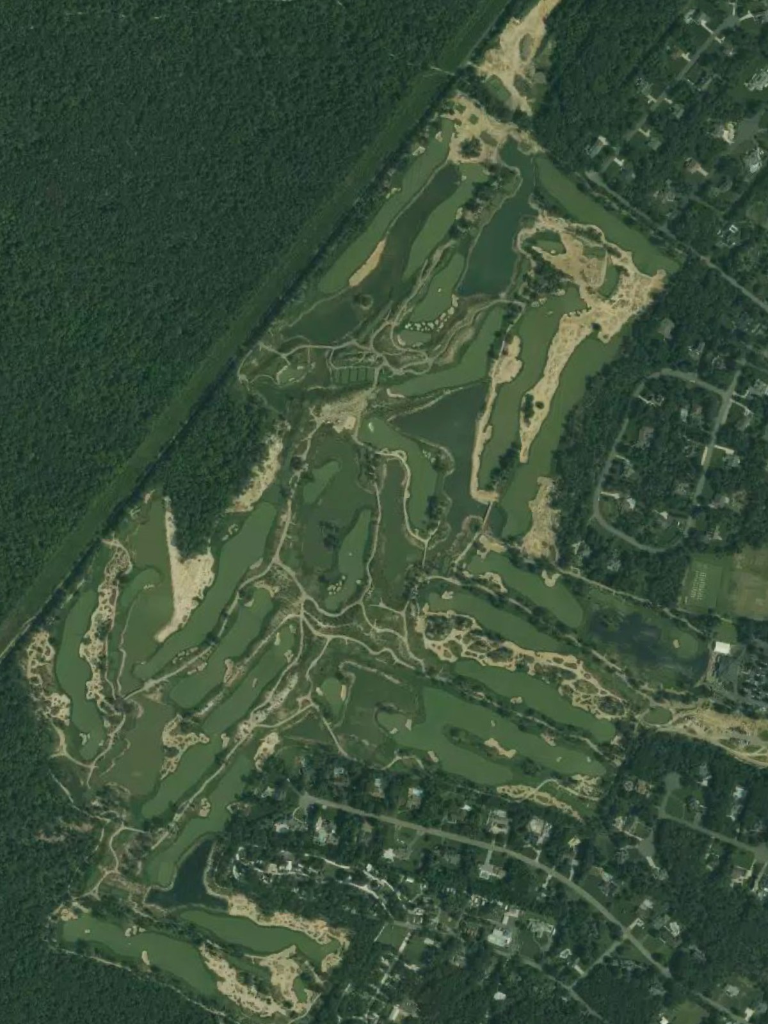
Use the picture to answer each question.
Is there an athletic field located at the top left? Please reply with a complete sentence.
No, there is no athletic field at the top left.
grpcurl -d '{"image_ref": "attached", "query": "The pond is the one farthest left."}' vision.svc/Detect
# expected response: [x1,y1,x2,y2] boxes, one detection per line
[143,837,227,913]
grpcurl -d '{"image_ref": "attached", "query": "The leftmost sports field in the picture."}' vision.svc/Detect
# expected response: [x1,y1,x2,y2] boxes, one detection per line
[682,561,723,607]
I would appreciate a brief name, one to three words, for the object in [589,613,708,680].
pond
